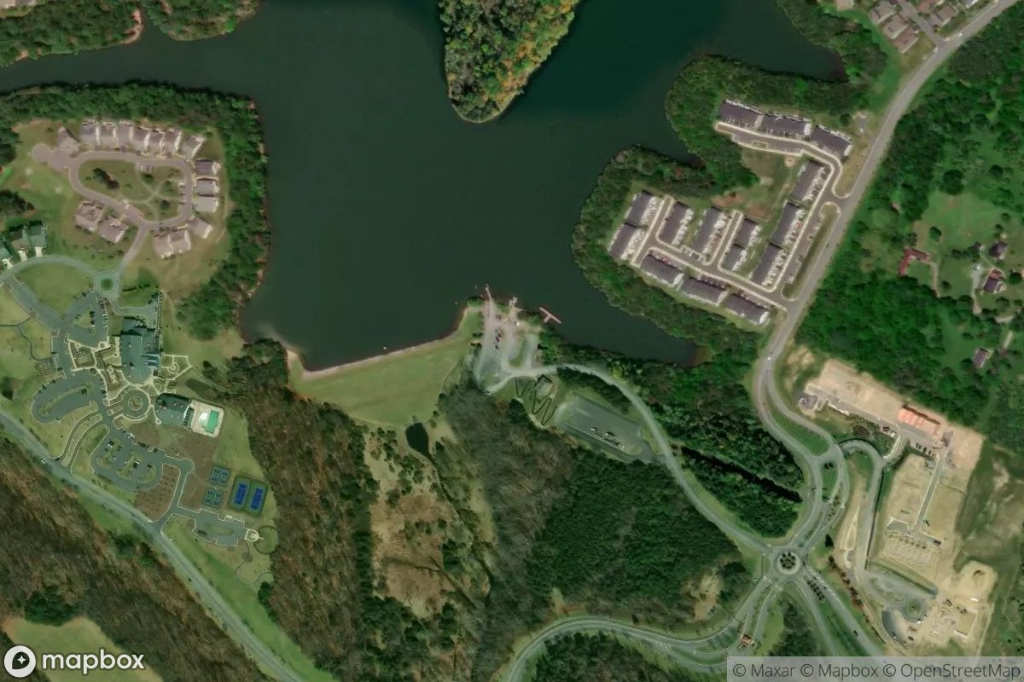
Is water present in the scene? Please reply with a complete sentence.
Yes, the picture does contain water.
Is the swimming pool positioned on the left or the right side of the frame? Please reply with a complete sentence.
The swimming pool is on the left side of the image.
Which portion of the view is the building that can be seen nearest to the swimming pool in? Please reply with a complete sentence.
You can find the building that can be seen nearest to the swimming pool in the left area of the picture.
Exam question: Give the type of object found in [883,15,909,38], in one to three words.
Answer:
house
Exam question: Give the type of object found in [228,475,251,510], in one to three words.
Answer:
tennis court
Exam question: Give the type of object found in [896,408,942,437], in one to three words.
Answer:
building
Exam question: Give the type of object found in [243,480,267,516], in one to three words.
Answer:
tennis court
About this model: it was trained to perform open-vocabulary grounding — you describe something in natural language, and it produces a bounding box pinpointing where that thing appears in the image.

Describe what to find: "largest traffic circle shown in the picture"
[768,545,806,582]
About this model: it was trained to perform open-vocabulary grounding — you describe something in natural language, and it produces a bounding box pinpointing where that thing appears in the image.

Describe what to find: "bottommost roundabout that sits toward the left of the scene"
[119,390,147,418]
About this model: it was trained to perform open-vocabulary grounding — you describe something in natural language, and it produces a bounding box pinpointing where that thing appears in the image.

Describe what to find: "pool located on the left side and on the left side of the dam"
[192,400,224,437]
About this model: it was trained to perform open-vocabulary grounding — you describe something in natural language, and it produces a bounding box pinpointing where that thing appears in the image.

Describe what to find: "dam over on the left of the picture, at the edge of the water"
[299,310,477,425]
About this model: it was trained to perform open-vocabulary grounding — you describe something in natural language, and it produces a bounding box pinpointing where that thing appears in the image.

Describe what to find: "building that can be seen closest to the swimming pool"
[157,394,196,427]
